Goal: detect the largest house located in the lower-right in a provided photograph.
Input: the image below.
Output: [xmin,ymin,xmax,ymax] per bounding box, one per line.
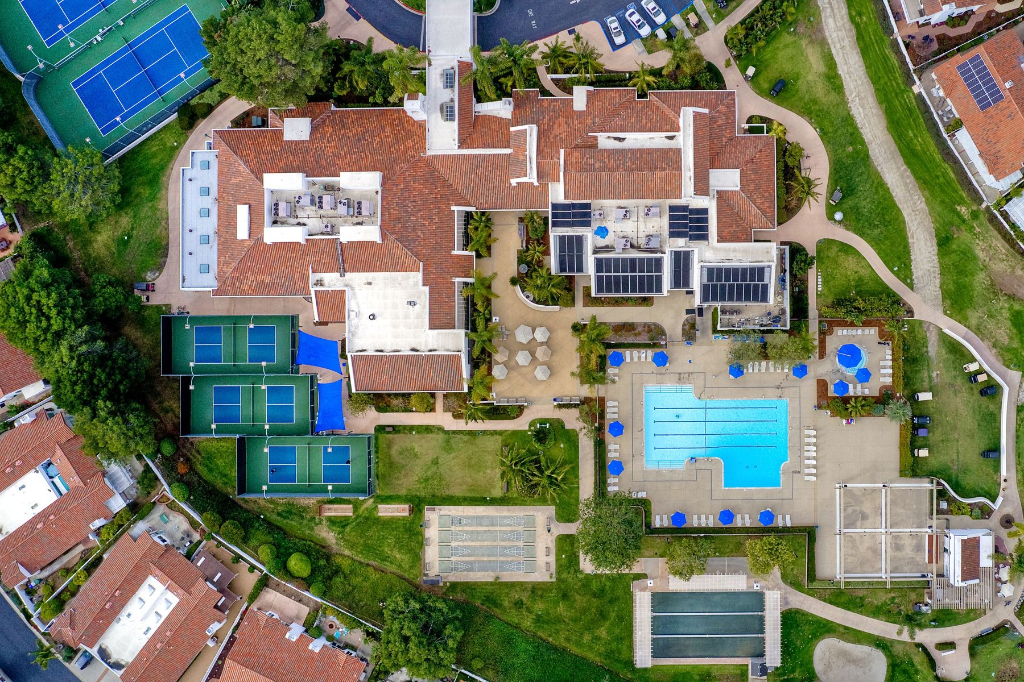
[936,528,993,585]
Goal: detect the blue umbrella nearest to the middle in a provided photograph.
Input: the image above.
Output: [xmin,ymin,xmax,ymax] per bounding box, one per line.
[608,351,624,367]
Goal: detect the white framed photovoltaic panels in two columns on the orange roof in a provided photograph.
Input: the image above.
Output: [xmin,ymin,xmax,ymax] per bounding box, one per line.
[956,53,1005,111]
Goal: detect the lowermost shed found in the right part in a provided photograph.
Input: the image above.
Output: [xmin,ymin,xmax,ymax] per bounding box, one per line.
[748,657,767,677]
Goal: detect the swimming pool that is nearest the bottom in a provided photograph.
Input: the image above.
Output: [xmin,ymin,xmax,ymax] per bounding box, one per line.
[640,384,793,492]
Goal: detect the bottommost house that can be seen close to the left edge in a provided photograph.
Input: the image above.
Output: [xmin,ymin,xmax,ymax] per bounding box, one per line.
[50,518,243,682]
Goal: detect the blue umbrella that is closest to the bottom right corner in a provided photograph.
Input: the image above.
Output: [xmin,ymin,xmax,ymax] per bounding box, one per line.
[759,509,774,526]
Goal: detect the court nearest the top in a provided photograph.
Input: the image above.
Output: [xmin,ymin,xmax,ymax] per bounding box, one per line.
[20,0,116,45]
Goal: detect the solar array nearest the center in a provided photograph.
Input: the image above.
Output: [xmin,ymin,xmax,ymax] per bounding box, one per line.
[558,237,584,271]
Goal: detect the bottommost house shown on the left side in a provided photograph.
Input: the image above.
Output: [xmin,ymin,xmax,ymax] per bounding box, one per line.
[218,606,367,682]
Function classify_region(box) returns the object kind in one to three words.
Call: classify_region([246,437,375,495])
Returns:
sports court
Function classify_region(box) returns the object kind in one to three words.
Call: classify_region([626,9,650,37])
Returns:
car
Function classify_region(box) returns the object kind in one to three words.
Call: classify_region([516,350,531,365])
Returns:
umbrella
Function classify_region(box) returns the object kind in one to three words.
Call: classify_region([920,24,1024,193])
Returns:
house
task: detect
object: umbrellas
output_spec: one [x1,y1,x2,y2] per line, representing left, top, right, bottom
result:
[854,367,871,383]
[536,346,551,361]
[515,325,533,343]
[516,350,531,365]
[671,511,687,527]
[608,351,624,367]
[837,345,861,369]
[608,421,623,437]
[608,460,623,476]
[535,364,549,381]
[728,363,744,378]
[535,326,549,342]
[718,509,734,525]
[994,565,1011,582]
[832,380,848,396]
[995,582,1017,599]
[492,364,508,379]
[792,362,807,379]
[829,212,842,221]
[493,347,508,361]
[759,509,774,526]
[653,351,667,367]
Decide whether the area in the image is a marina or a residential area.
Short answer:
residential area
